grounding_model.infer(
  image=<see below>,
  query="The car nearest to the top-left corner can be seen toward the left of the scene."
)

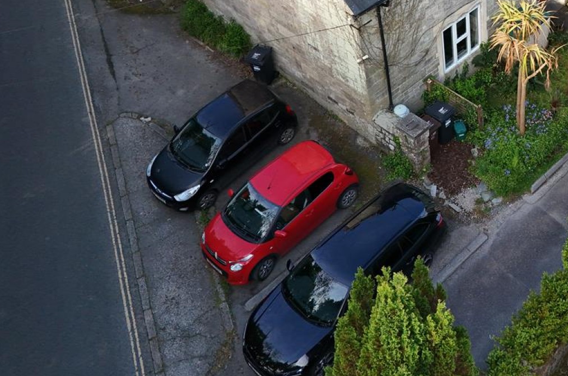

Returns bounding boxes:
[141,71,296,209]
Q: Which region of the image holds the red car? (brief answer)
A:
center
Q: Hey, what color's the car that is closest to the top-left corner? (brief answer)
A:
black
